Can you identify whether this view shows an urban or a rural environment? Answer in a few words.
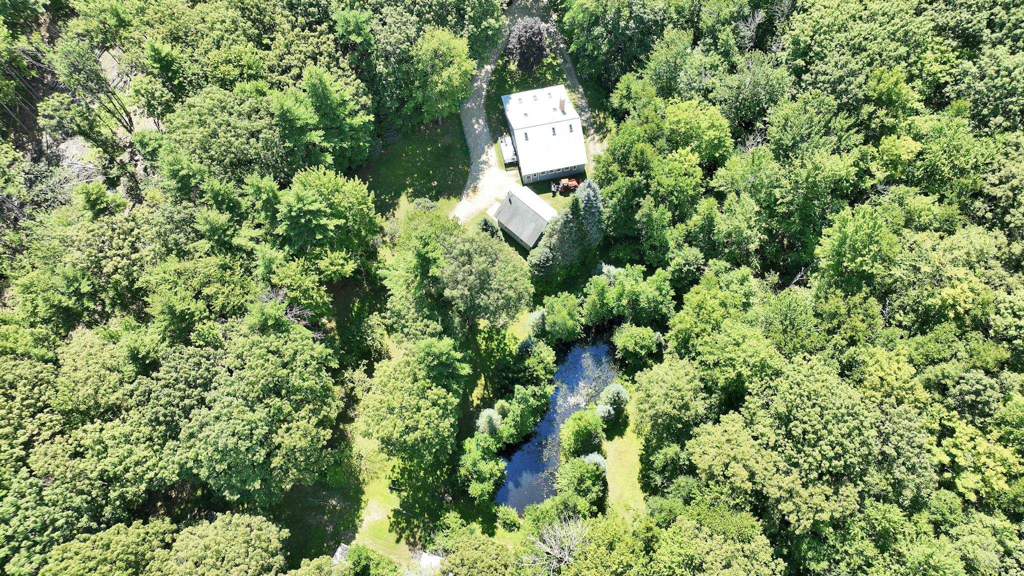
rural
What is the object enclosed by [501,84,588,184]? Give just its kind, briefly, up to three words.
house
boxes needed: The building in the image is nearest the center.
[494,188,559,250]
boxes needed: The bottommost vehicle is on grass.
[553,179,583,194]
